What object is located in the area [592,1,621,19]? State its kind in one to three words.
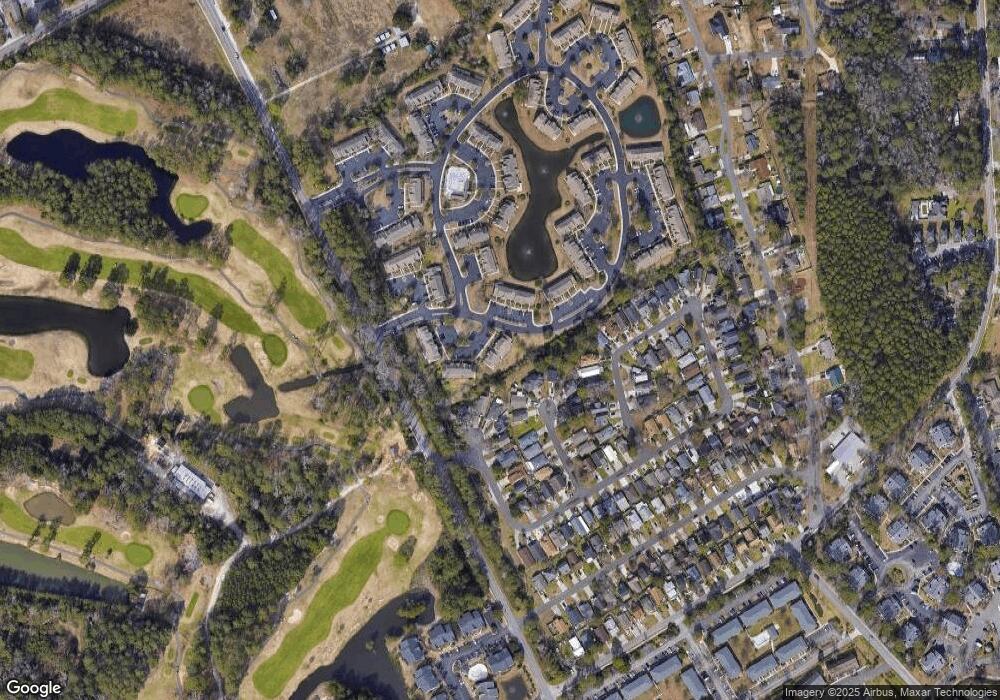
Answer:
building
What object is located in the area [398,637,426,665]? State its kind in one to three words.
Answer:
building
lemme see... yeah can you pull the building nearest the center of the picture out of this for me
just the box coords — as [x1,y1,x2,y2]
[480,331,511,365]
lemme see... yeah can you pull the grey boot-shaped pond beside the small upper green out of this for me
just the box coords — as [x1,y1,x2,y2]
[226,346,278,422]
